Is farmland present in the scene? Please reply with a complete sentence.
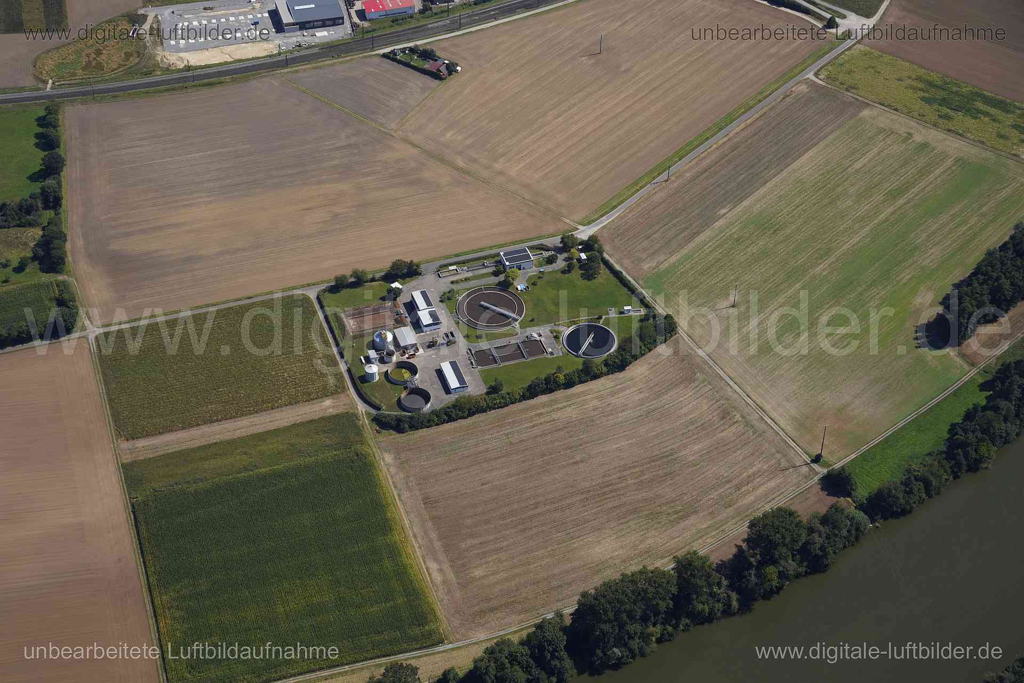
Yes, some farmland is visible.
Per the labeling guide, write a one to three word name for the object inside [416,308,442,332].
building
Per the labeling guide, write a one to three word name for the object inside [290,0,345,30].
building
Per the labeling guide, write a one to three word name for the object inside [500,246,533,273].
house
